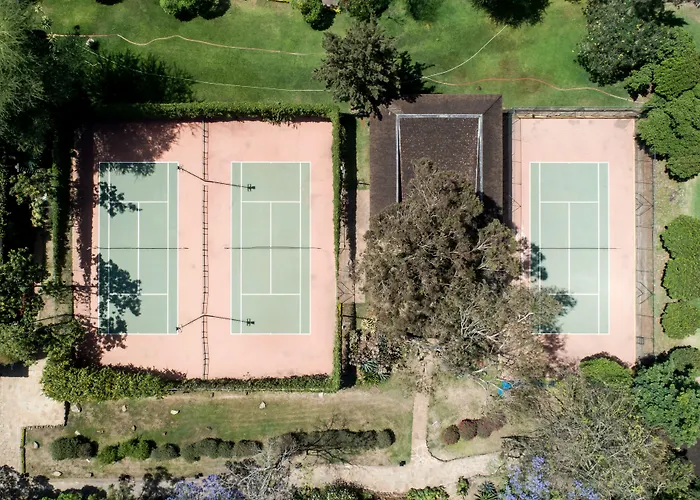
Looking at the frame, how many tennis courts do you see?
3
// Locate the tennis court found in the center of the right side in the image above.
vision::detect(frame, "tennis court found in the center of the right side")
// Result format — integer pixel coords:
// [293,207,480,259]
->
[512,118,636,364]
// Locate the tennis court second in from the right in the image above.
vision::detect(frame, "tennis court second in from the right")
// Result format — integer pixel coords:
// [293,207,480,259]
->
[206,119,336,379]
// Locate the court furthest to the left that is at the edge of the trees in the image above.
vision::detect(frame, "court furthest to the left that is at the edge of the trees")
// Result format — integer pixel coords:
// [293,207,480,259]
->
[72,119,206,379]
